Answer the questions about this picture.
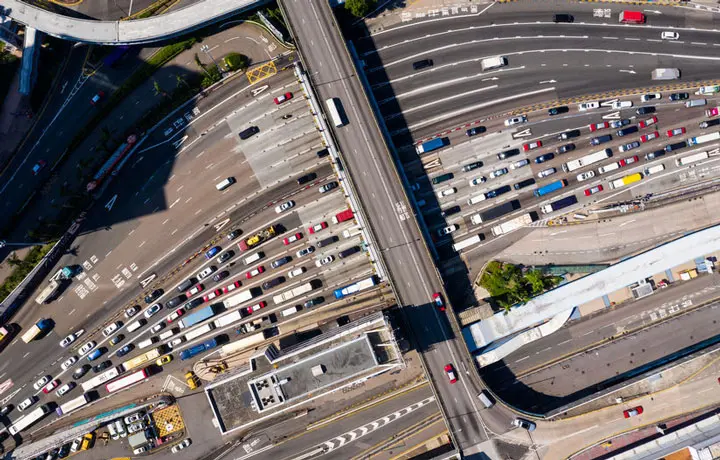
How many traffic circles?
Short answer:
0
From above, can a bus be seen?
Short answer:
Yes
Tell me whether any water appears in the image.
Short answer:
No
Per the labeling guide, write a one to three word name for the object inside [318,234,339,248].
vehicle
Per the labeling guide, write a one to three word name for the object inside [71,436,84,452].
vehicle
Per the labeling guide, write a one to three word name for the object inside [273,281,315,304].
bus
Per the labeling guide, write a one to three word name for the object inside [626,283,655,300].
building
